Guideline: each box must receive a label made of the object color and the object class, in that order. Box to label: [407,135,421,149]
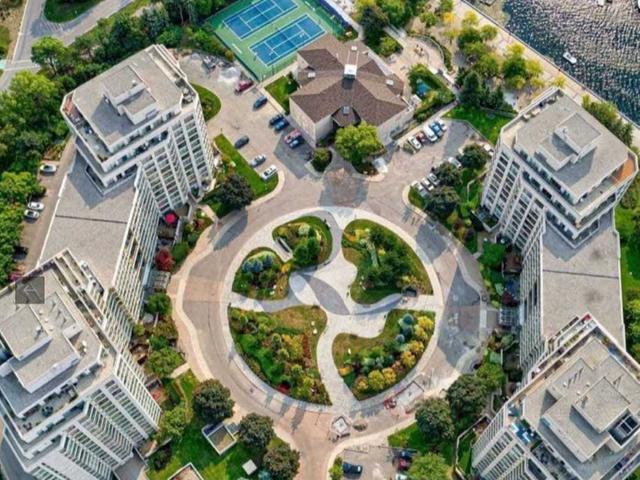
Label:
white vehicle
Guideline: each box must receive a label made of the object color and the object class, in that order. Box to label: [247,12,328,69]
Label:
blue tennis court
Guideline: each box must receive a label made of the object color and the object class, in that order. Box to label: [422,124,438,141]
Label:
white vehicle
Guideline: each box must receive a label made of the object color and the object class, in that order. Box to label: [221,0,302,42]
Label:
blue tennis court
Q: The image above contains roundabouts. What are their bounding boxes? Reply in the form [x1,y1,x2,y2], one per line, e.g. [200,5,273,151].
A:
[219,206,445,413]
